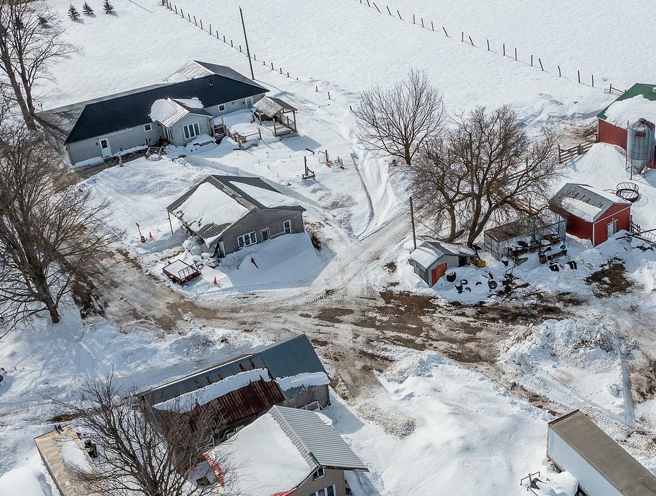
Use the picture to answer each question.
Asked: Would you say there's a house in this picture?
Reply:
Yes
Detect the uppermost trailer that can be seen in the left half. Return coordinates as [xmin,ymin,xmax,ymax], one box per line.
[162,260,200,287]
